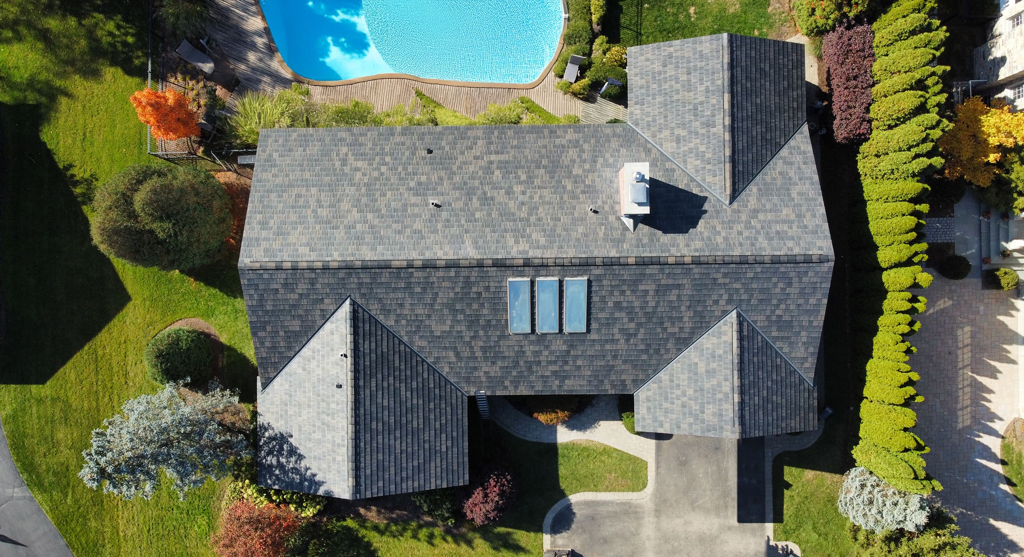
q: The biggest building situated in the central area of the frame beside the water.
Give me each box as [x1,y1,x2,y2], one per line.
[237,32,836,500]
